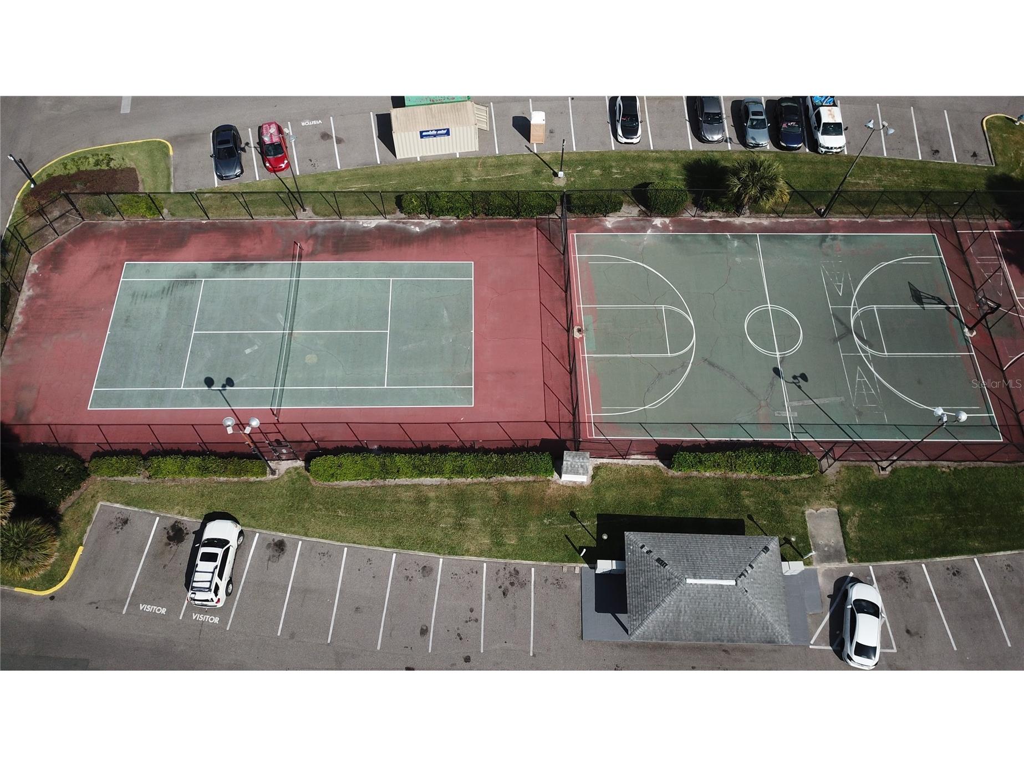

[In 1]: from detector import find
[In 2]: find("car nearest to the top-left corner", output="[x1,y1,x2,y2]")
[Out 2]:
[211,125,245,180]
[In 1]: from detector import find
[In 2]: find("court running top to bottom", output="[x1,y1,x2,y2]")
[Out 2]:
[953,220,1024,428]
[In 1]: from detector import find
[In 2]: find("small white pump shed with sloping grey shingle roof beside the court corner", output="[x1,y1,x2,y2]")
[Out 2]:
[557,451,589,483]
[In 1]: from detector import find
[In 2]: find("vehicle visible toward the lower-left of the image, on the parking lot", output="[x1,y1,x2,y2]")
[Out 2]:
[188,518,247,607]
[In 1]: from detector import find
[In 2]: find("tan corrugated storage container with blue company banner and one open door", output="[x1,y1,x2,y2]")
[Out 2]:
[390,101,488,159]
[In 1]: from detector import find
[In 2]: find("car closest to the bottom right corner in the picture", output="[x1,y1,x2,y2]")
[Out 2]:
[839,580,885,670]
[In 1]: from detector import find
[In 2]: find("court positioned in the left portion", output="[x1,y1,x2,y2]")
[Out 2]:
[0,218,574,466]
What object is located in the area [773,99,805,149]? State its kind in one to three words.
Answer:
car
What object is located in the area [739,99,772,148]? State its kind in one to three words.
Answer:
car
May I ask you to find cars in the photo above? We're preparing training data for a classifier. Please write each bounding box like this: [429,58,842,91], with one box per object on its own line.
[693,90,727,141]
[615,93,645,143]
[773,99,805,149]
[839,580,885,670]
[188,518,247,607]
[211,125,245,180]
[739,99,772,148]
[259,126,290,172]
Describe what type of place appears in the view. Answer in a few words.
sports ground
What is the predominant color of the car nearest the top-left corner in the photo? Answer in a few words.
black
